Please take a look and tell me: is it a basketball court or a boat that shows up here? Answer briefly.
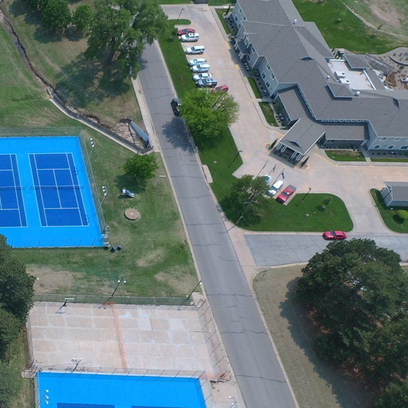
basketball court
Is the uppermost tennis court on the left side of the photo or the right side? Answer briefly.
left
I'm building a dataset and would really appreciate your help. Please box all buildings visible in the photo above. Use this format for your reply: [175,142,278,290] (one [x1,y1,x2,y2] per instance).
[378,182,408,208]
[230,0,408,165]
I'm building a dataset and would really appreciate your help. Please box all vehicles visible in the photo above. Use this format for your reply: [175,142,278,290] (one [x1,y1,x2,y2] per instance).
[170,100,182,115]
[197,76,218,88]
[218,81,231,92]
[193,72,213,81]
[185,31,200,42]
[278,183,298,201]
[191,62,211,73]
[269,177,286,195]
[186,44,206,54]
[322,231,347,241]
[188,57,208,67]
[177,27,196,34]
[262,170,275,185]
